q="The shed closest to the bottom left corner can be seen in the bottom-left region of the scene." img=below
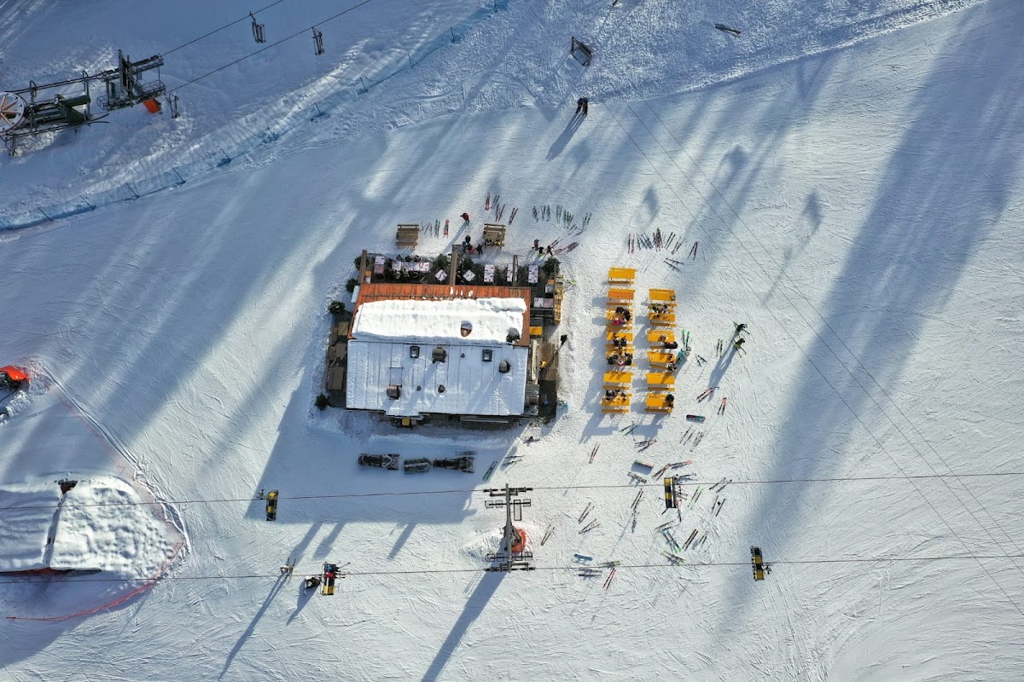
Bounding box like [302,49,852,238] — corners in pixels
[0,477,178,574]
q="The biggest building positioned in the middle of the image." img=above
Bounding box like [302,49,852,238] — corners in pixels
[346,283,532,422]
